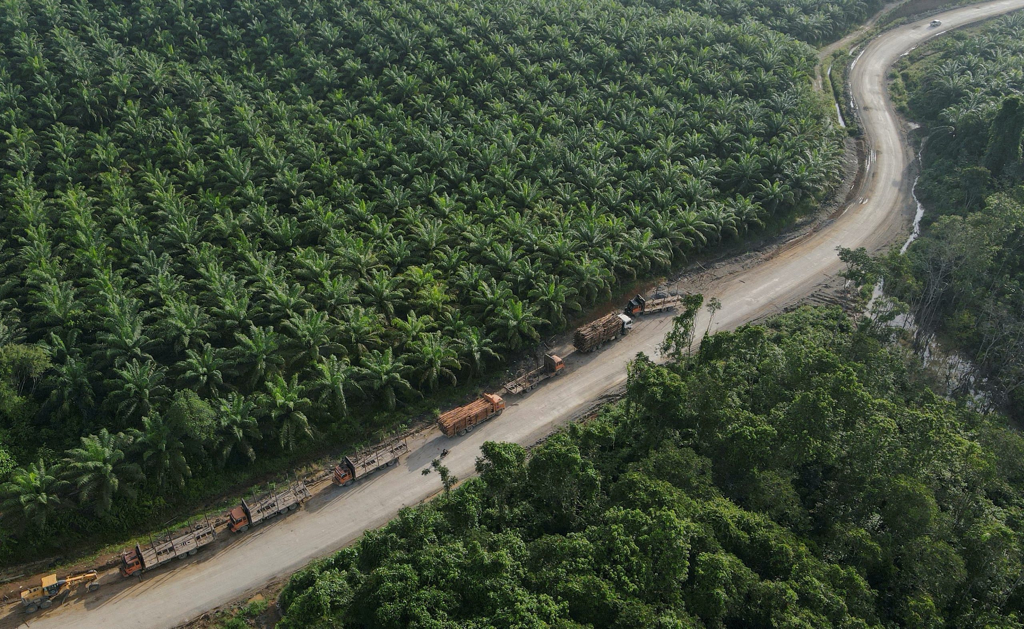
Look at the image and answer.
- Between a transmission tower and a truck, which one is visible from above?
truck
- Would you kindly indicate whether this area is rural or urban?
rural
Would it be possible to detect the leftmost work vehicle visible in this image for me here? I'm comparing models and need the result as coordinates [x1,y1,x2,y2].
[16,570,99,616]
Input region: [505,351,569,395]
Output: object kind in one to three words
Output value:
truck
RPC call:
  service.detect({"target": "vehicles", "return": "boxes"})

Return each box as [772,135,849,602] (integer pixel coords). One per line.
[223,473,310,535]
[16,570,99,616]
[329,431,408,488]
[117,517,211,578]
[929,20,943,28]
[623,284,686,317]
[505,351,569,395]
[439,390,508,438]
[574,313,632,352]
